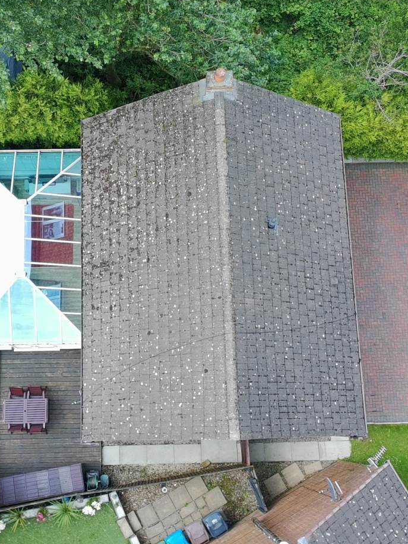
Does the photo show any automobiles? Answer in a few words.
No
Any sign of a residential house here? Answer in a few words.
Yes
